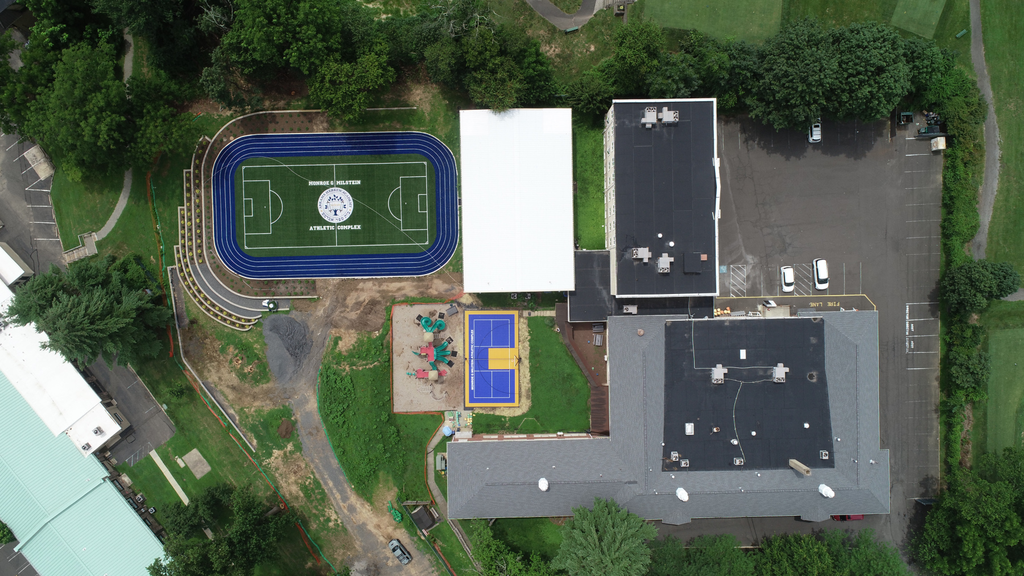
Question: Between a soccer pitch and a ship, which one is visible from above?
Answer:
soccer pitch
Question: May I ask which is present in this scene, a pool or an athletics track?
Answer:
athletics track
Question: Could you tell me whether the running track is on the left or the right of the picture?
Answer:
left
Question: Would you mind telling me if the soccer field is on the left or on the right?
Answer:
left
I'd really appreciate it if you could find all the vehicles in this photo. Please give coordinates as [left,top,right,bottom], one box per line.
[388,536,412,568]
[812,258,830,290]
[261,302,276,312]
[779,266,796,293]
[806,115,823,145]
[831,514,866,522]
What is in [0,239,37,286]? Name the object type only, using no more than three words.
building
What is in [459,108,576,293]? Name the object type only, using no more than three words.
building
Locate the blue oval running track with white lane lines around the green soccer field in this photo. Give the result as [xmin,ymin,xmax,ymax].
[211,131,459,279]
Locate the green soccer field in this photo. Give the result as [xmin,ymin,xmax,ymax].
[234,154,436,256]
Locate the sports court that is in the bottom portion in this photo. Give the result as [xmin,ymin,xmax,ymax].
[465,310,519,407]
